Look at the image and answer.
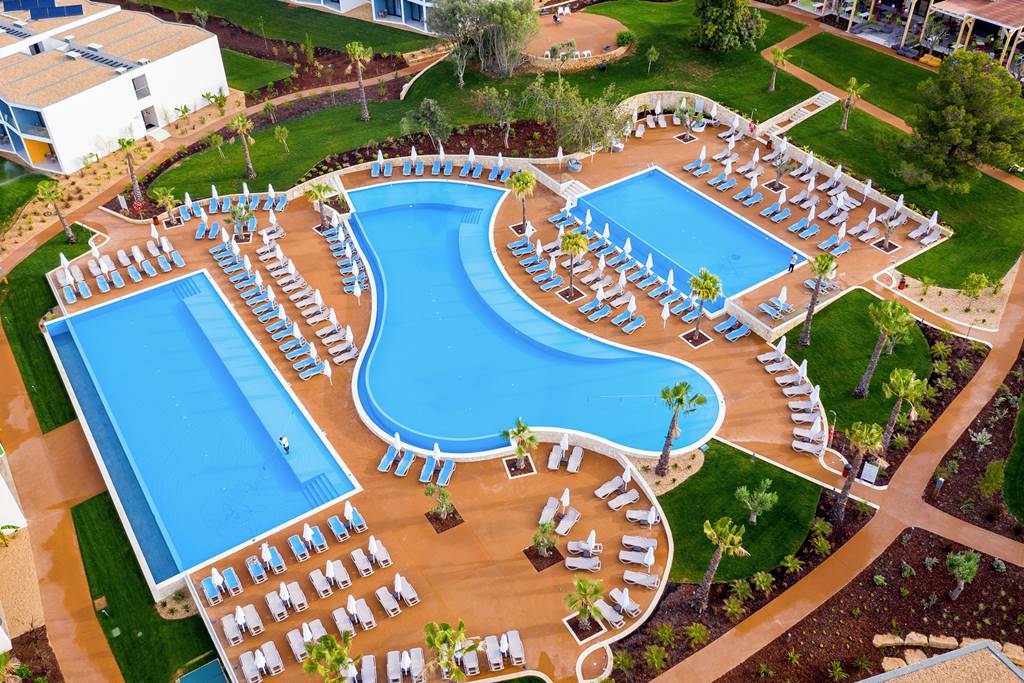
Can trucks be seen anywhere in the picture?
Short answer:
No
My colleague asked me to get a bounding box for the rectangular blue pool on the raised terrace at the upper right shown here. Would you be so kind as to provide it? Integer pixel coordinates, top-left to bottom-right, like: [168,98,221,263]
[570,163,810,322]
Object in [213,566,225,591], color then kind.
white umbrella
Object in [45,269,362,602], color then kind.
blue swimming pool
